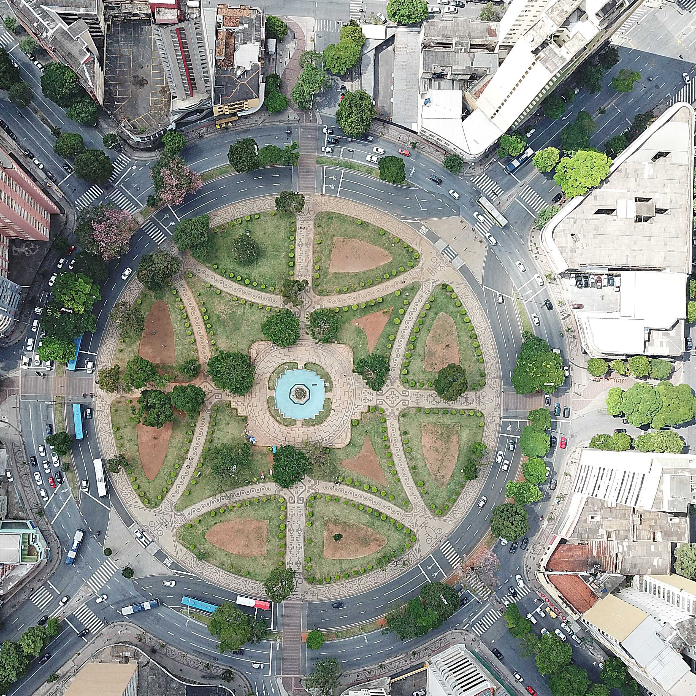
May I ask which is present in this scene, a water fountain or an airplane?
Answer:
water fountain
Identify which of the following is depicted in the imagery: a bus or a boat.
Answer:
bus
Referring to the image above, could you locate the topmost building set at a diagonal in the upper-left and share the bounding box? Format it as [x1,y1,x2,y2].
[0,0,109,115]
